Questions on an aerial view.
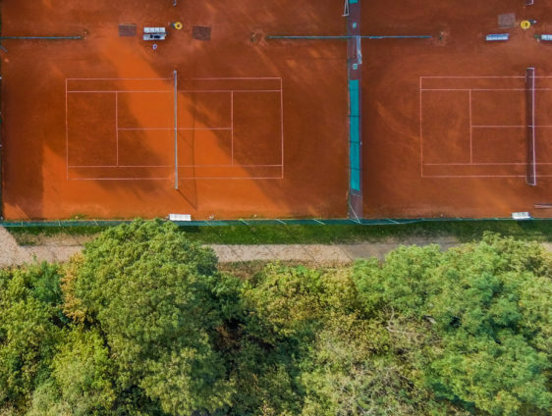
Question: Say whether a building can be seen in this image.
No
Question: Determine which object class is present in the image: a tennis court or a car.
tennis court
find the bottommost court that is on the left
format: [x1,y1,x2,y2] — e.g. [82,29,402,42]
[0,37,349,221]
